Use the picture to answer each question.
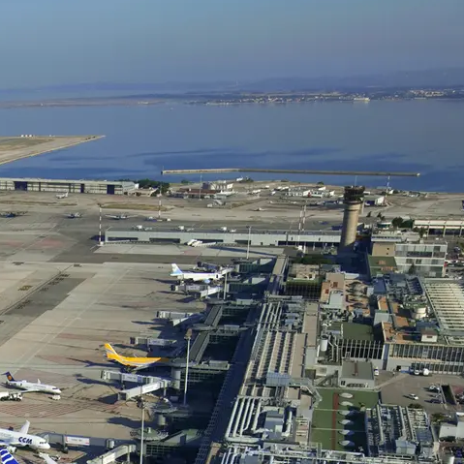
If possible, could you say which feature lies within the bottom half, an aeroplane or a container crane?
aeroplane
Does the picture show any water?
Yes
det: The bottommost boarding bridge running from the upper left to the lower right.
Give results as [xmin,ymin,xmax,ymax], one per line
[125,336,175,369]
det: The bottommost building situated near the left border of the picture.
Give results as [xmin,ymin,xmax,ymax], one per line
[0,178,140,199]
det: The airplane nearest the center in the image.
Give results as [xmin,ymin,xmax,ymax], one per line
[164,261,225,281]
